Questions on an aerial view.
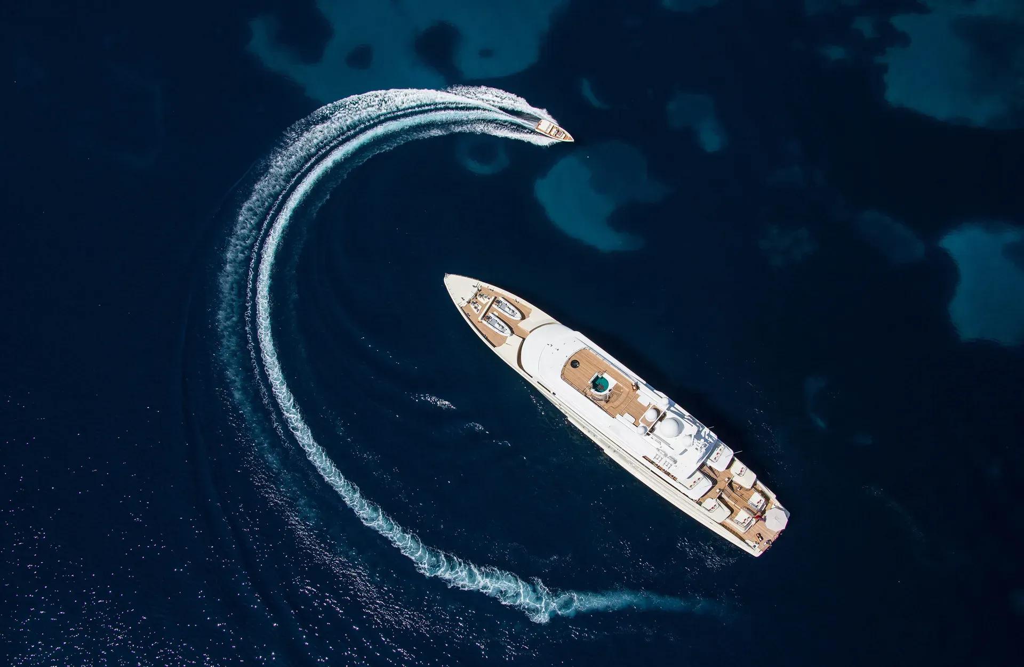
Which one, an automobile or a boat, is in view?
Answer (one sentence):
There is a boat in the scene.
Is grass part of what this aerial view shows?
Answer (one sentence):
No, no grass is visible.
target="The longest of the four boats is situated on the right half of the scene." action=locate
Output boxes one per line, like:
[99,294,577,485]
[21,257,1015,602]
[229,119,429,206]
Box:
[444,270,791,556]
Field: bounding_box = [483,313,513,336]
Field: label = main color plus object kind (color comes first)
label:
white boat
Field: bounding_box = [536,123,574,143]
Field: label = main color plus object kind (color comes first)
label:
white boat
